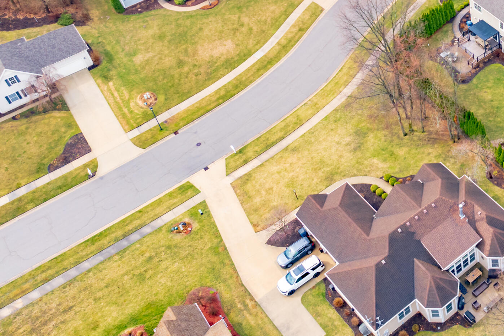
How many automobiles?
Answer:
2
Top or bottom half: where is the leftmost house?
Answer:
top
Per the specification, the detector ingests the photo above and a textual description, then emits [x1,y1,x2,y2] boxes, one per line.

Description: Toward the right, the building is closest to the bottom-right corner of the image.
[291,156,504,336]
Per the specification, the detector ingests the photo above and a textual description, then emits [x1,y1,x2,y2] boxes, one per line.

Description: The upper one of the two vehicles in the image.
[275,235,318,273]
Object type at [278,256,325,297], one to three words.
car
